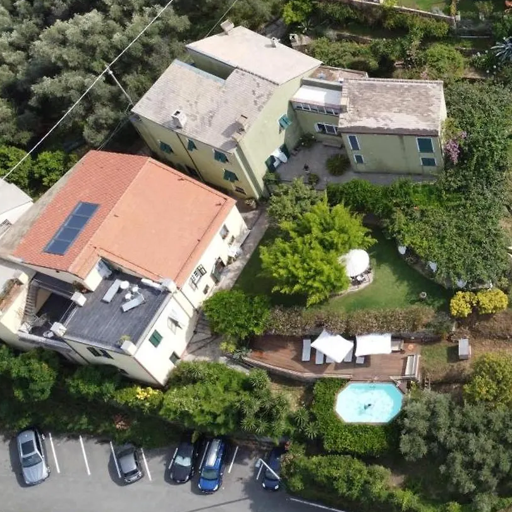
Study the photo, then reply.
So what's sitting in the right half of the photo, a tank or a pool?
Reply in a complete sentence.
You can see a pool in the right half of the photo.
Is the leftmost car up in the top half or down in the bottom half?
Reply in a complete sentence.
It is in the bottom half that the leftmost car appears.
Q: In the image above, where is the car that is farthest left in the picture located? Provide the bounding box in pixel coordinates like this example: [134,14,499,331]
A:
[14,425,56,486]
